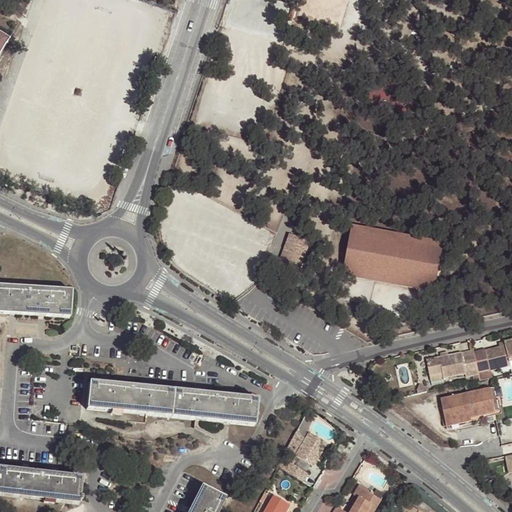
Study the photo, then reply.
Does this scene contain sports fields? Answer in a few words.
Yes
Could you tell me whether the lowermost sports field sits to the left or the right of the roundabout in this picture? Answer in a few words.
to its right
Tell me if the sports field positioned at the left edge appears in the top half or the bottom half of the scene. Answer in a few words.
top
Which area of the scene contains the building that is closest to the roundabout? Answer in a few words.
left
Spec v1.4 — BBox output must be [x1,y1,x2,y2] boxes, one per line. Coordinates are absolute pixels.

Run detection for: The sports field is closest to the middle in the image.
[159,190,276,297]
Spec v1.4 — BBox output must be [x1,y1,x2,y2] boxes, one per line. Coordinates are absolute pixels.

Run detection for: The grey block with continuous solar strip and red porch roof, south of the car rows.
[0,464,85,506]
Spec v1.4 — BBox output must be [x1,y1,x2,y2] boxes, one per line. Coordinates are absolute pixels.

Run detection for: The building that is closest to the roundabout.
[0,282,74,319]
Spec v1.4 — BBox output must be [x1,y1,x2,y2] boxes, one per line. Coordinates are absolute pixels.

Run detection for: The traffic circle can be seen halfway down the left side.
[88,236,138,286]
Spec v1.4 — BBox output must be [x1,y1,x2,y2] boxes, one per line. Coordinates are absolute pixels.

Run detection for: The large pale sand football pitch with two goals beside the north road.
[0,0,174,204]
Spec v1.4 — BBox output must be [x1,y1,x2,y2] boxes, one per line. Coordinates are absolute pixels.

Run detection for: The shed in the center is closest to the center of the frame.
[282,233,309,265]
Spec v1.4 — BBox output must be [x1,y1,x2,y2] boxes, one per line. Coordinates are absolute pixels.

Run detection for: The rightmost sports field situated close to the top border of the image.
[192,0,285,132]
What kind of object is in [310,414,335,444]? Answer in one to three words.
swimming pool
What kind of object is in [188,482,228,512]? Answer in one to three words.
building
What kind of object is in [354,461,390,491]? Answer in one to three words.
swimming pool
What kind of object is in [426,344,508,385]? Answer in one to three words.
house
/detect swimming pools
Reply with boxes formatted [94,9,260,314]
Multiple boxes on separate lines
[354,461,390,491]
[310,414,335,444]
[498,378,512,407]
[280,479,290,490]
[398,363,413,388]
